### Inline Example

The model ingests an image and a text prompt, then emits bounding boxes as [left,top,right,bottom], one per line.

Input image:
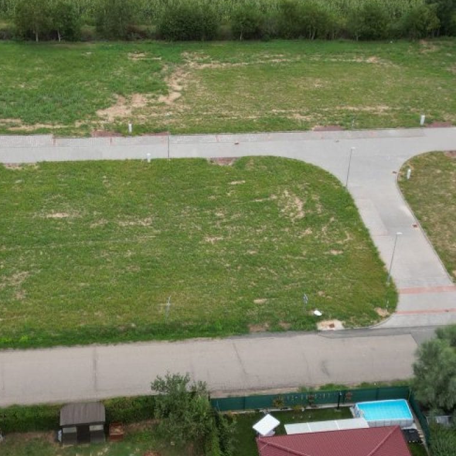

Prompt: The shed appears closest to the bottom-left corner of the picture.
[58,393,107,449]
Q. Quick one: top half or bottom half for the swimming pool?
bottom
